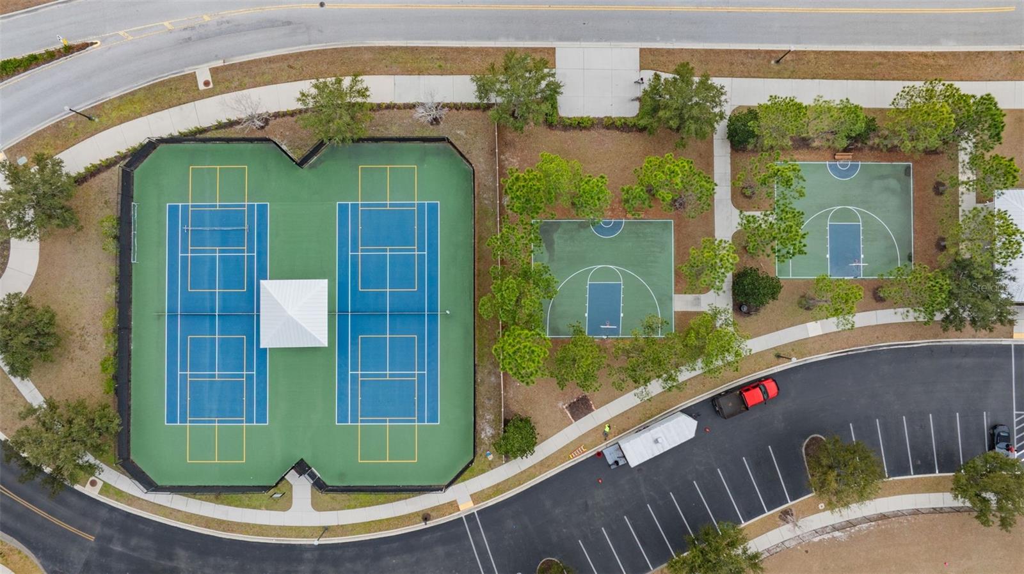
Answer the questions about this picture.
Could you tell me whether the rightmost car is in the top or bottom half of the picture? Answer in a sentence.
It is in the bottom half that the rightmost car appears.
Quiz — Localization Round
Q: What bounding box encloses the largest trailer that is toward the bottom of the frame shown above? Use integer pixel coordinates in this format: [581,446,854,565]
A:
[602,412,701,470]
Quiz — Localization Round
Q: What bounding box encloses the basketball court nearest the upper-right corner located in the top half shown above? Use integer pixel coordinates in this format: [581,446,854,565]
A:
[774,162,914,278]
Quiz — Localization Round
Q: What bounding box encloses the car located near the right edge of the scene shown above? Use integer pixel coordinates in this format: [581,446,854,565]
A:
[989,426,1012,466]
